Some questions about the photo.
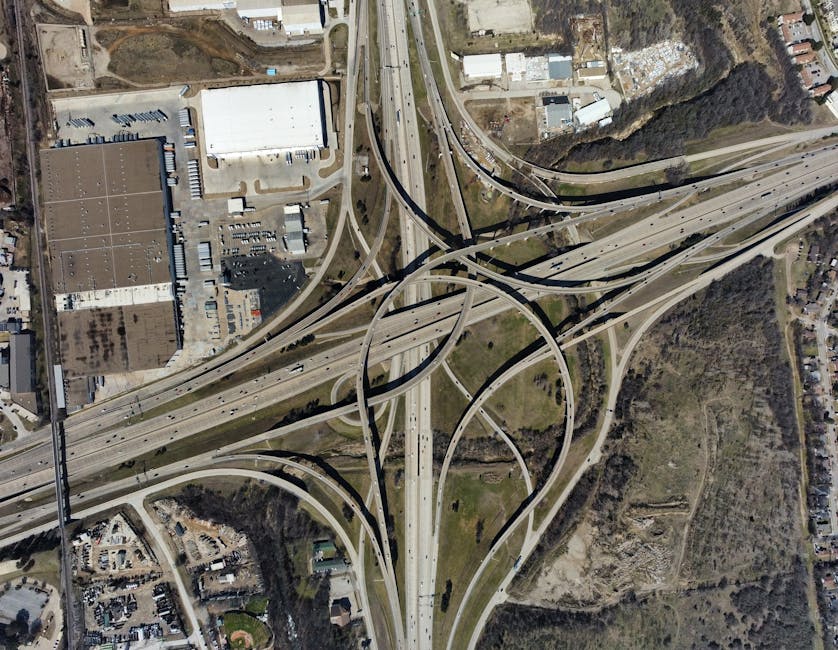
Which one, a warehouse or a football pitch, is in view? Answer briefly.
warehouse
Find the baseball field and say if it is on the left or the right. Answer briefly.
left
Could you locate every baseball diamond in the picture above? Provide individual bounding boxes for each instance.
[221,612,273,650]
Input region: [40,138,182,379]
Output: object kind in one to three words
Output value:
warehouse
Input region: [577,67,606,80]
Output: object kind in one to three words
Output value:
shed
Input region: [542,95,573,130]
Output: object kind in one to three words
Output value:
building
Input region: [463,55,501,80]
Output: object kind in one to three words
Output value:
building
